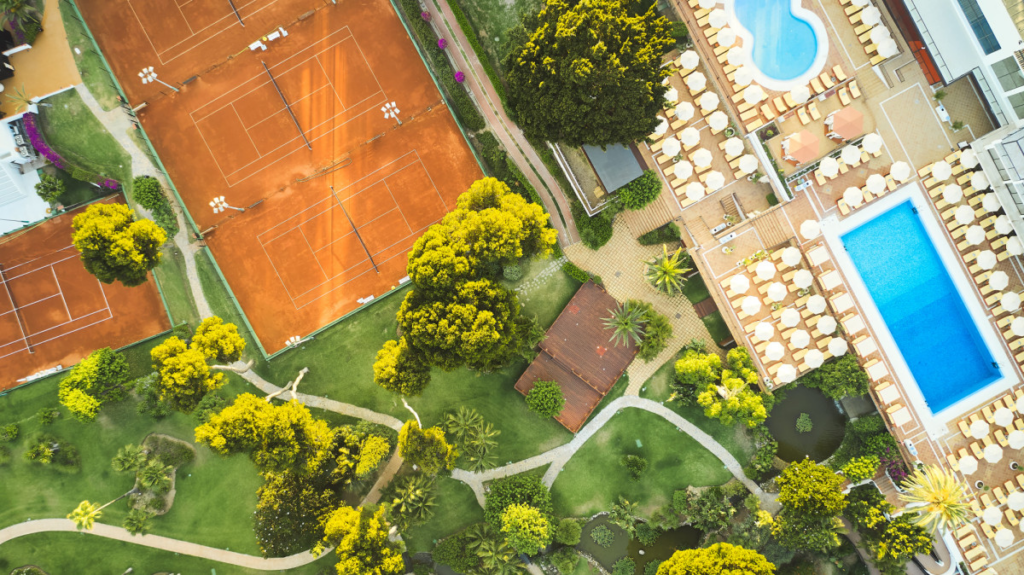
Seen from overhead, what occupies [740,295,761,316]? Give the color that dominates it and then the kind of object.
white umbrella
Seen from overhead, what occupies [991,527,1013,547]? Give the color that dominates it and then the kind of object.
white umbrella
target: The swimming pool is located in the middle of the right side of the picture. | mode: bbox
[821,182,1020,441]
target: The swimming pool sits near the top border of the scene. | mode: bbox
[720,0,829,91]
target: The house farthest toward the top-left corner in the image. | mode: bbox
[0,120,54,234]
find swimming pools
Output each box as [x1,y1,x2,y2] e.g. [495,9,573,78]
[821,182,1020,441]
[720,0,829,91]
